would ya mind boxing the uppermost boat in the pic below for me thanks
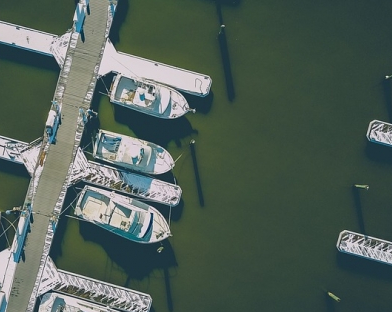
[109,73,196,120]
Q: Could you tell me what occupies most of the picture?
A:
water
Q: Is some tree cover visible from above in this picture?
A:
No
